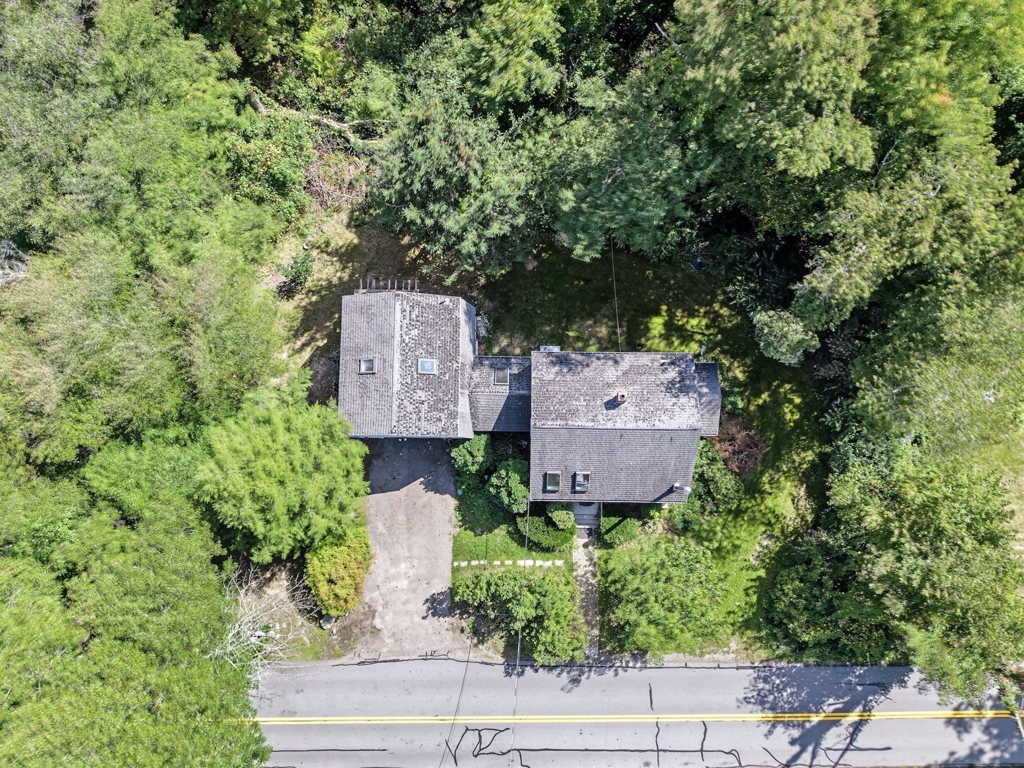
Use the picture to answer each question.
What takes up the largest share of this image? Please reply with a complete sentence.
For the most part, this view shows trees.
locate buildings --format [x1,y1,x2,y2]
[338,291,478,441]
[528,350,721,504]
